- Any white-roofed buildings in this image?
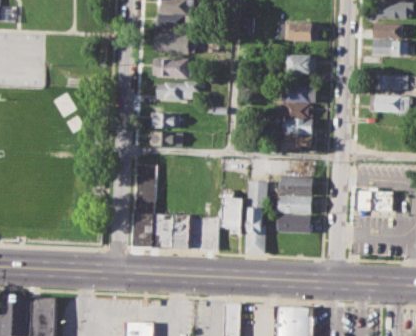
Yes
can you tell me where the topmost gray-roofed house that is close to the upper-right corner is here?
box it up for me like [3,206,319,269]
[376,0,414,20]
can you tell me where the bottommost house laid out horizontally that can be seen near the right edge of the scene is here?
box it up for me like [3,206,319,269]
[370,94,410,115]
